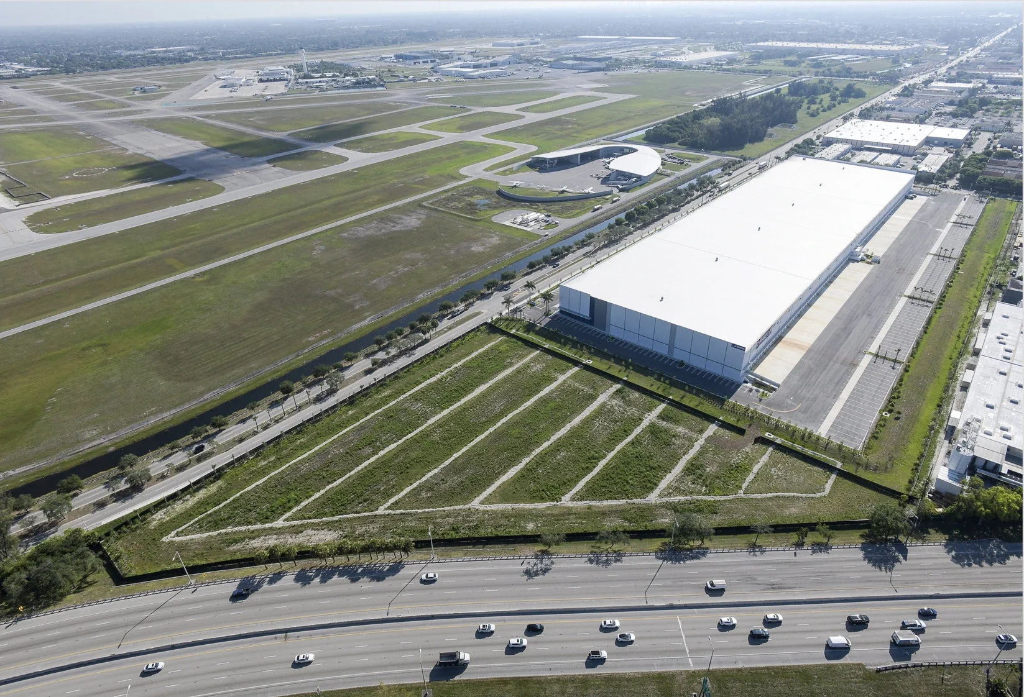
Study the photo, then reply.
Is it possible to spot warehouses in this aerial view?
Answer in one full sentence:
Yes, a warehouse can be made out from above.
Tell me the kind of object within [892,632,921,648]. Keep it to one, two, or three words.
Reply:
vehicle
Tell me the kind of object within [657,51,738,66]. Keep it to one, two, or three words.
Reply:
building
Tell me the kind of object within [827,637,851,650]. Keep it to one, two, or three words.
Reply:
vehicle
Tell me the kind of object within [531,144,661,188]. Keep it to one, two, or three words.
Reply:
hangar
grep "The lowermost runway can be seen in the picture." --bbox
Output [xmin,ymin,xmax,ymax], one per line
[71,122,291,189]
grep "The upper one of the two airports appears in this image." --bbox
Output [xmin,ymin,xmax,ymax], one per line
[0,36,789,273]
